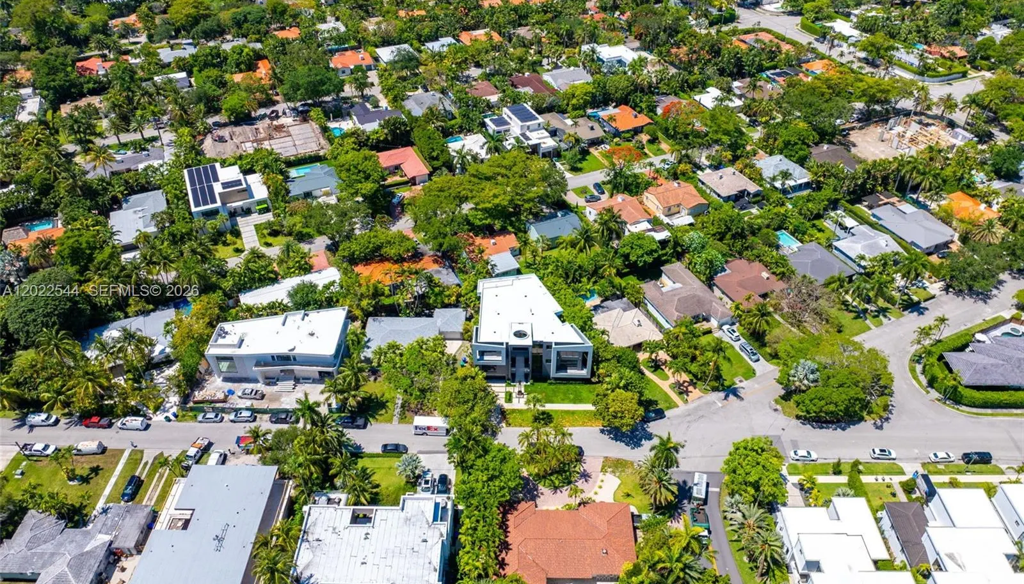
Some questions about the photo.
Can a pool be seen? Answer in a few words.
Yes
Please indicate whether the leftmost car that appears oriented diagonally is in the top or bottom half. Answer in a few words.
bottom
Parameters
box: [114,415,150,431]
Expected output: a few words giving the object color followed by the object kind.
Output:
white vehicle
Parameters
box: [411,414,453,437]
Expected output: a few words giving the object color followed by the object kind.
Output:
white truck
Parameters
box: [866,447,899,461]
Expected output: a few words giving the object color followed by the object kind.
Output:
white car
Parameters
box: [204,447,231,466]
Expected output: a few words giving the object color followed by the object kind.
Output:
white car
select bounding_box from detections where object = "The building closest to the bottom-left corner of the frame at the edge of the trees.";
[0,505,154,584]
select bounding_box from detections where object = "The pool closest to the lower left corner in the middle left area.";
[169,295,199,319]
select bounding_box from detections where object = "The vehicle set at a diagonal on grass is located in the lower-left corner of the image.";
[115,476,148,503]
